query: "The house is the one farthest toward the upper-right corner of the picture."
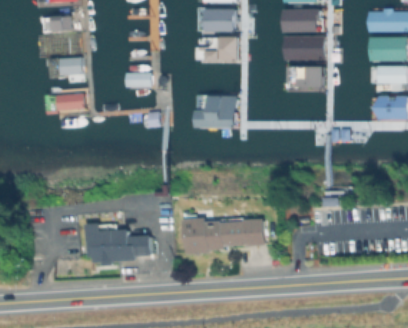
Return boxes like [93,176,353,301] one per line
[367,8,408,34]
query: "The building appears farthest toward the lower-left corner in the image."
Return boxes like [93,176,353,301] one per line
[86,224,158,268]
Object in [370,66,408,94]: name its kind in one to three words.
house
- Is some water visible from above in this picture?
Yes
